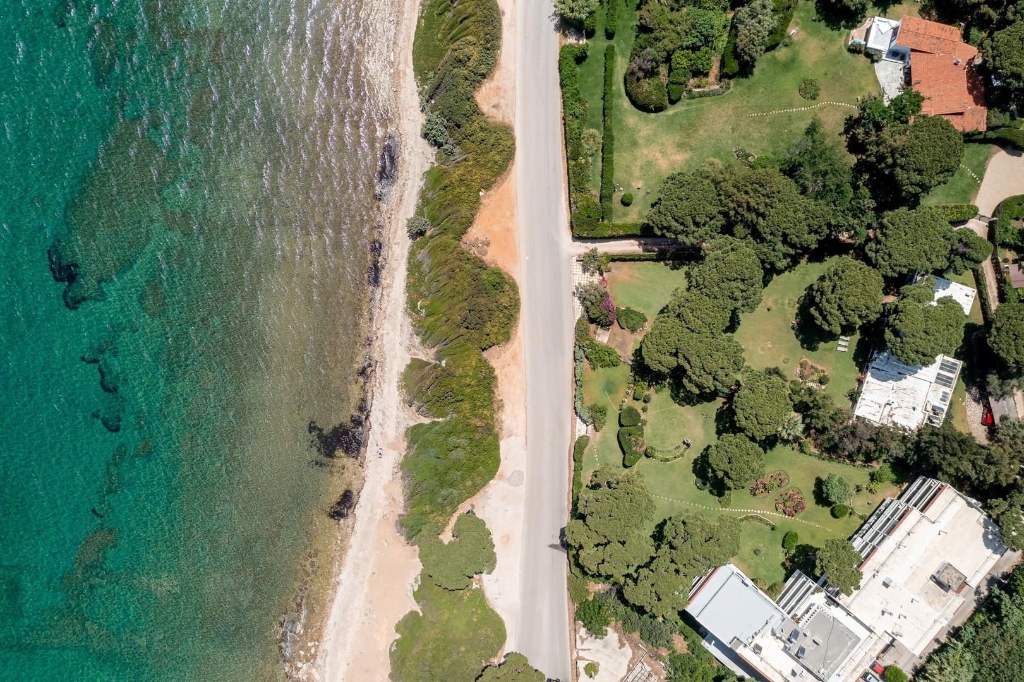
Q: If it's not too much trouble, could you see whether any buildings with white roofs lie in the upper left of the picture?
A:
No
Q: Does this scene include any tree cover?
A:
Yes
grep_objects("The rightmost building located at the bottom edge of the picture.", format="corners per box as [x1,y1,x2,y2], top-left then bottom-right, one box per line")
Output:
[831,475,1006,658]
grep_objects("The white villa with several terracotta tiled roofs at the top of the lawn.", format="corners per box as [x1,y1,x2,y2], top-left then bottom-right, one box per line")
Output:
[863,15,987,133]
